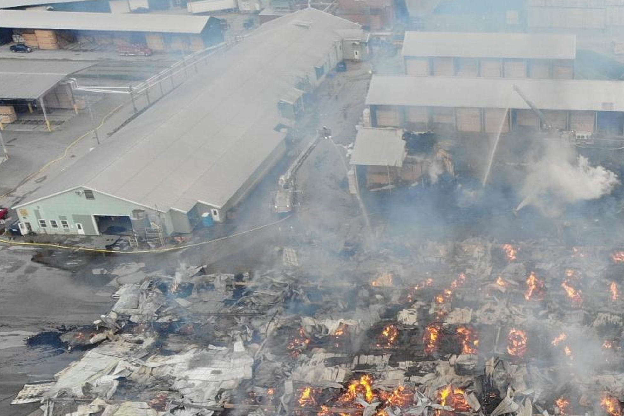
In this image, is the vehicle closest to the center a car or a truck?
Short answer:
truck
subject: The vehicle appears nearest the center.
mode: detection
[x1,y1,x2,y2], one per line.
[273,125,330,209]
